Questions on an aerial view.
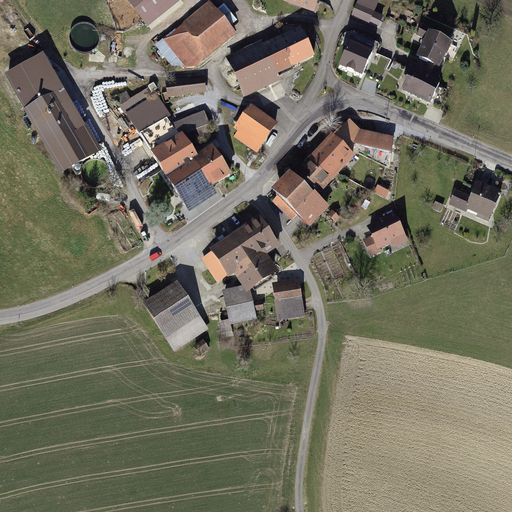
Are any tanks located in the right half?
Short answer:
No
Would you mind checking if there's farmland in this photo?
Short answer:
Yes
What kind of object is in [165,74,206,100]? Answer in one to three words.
shed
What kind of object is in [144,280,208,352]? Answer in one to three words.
barn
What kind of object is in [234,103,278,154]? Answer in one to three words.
house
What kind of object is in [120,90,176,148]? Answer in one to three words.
building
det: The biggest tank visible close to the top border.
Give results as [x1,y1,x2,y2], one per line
[70,22,100,53]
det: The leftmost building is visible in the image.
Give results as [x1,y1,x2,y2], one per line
[6,51,100,174]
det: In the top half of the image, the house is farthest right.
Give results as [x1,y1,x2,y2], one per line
[449,179,501,222]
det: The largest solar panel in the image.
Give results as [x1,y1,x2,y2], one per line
[176,171,216,210]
